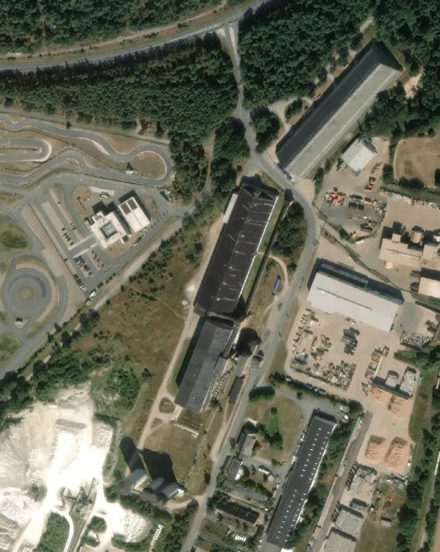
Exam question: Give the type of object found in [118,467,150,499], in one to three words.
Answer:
silo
